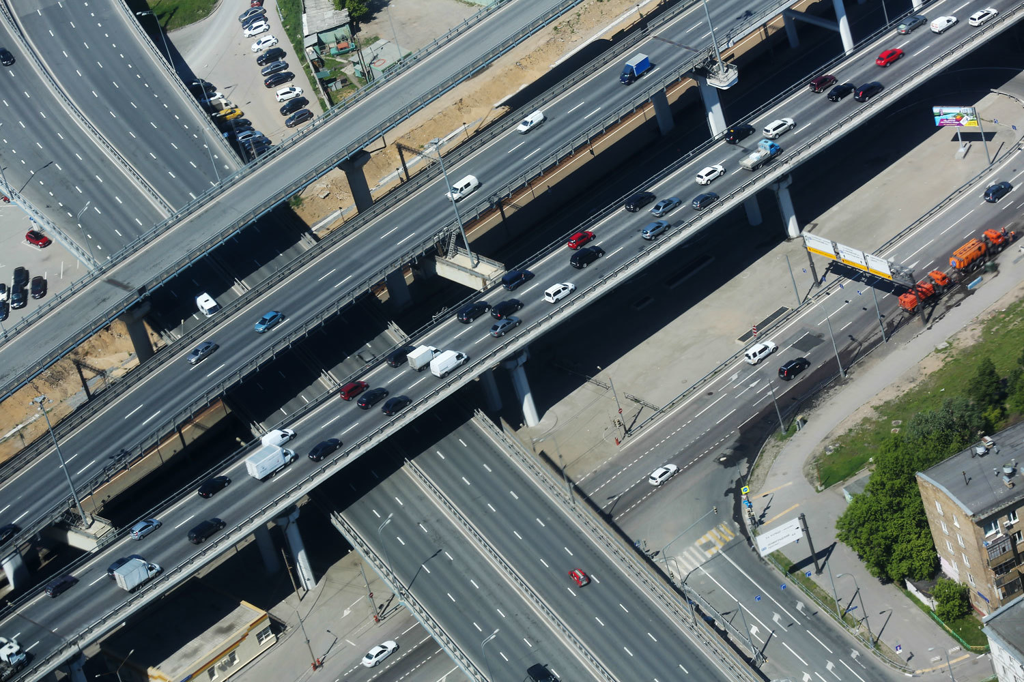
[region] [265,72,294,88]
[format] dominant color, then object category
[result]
black car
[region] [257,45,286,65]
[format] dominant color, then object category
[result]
black car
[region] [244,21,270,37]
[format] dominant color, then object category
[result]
white car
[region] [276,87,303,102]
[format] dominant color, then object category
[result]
white car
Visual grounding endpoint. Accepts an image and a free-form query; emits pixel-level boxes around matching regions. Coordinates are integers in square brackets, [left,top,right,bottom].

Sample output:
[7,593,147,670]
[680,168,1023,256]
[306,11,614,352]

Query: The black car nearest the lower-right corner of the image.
[777,357,810,381]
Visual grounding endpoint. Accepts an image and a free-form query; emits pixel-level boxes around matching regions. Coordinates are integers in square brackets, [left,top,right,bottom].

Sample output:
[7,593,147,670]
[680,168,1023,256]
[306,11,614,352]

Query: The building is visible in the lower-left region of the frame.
[104,573,279,682]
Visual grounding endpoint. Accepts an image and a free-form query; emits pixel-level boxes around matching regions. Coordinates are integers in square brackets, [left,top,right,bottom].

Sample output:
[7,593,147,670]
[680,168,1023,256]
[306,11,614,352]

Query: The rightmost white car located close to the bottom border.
[363,642,397,667]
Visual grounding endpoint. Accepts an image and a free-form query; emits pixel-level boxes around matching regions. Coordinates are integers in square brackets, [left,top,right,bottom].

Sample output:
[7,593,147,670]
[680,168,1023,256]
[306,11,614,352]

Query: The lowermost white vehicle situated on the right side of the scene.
[648,464,678,486]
